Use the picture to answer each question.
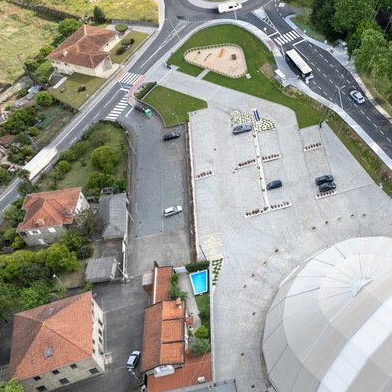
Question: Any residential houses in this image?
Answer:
Yes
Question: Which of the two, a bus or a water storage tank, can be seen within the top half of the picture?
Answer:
bus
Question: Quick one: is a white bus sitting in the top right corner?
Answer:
Yes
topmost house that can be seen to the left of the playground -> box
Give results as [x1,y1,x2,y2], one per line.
[46,25,118,76]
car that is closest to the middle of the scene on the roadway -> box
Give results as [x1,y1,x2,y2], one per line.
[159,202,185,217]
